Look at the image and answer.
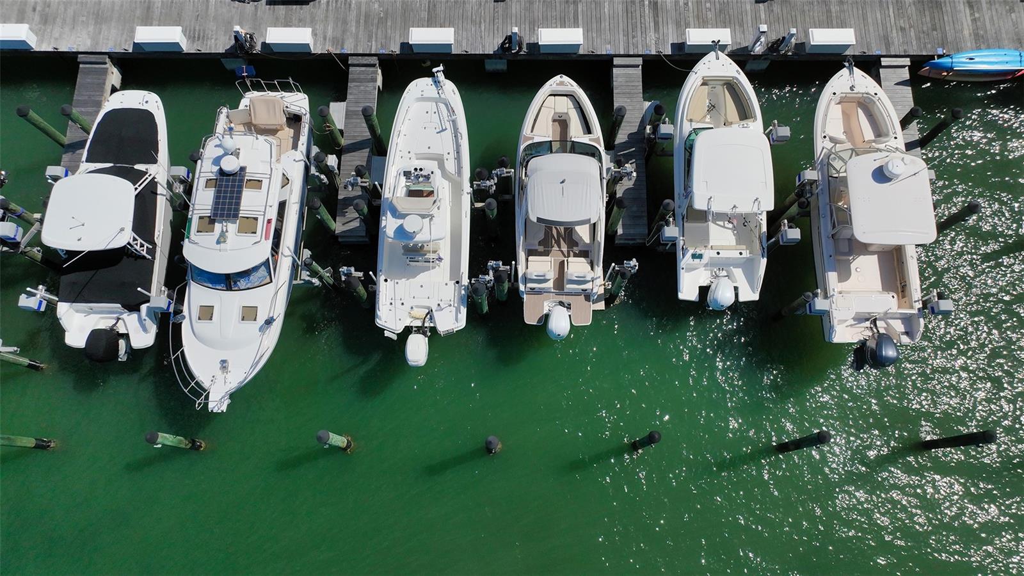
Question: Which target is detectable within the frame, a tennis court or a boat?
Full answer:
I can see a boat in this picture.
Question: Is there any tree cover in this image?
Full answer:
No, the picture contains no tree cover.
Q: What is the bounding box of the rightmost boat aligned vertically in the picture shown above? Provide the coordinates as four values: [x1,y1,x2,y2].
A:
[808,51,955,373]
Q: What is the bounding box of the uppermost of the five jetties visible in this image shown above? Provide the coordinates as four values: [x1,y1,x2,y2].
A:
[0,0,1024,60]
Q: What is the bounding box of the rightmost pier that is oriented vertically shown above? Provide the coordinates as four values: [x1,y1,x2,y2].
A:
[879,58,924,162]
